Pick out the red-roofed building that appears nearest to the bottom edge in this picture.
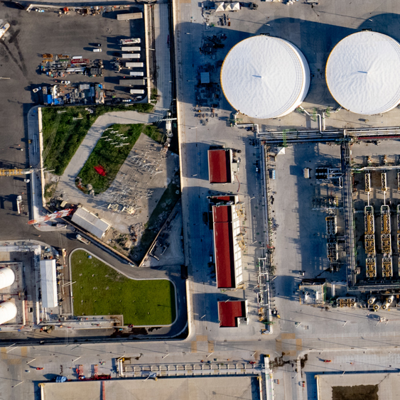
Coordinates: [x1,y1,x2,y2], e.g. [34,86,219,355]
[218,298,249,328]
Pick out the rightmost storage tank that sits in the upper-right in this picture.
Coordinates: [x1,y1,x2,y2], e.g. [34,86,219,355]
[326,28,400,116]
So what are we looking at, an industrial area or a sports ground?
industrial area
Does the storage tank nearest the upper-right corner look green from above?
No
